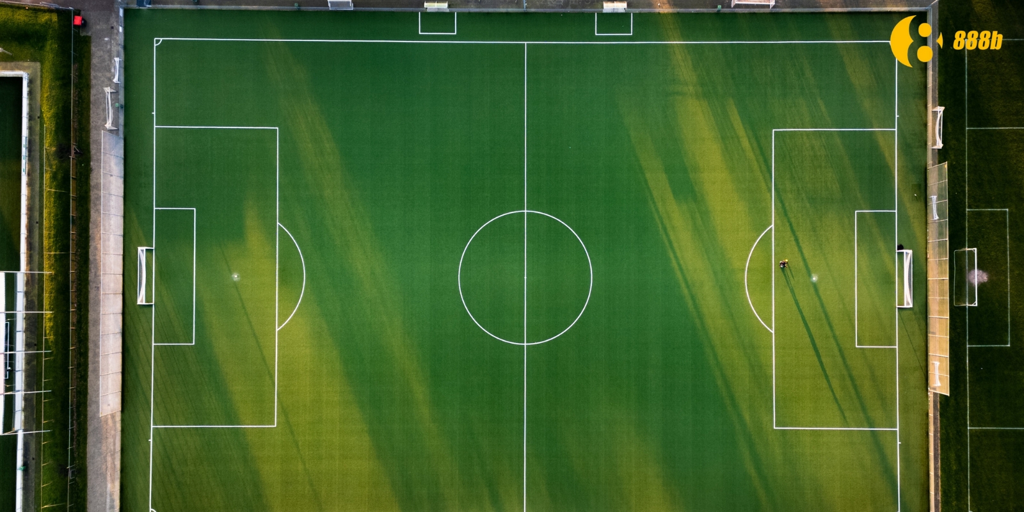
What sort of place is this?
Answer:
sports ground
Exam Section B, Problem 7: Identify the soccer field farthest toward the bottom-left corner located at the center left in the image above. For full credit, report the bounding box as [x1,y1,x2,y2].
[0,76,28,512]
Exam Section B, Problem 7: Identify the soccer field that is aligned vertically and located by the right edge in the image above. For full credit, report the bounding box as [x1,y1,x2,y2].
[942,0,1024,512]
